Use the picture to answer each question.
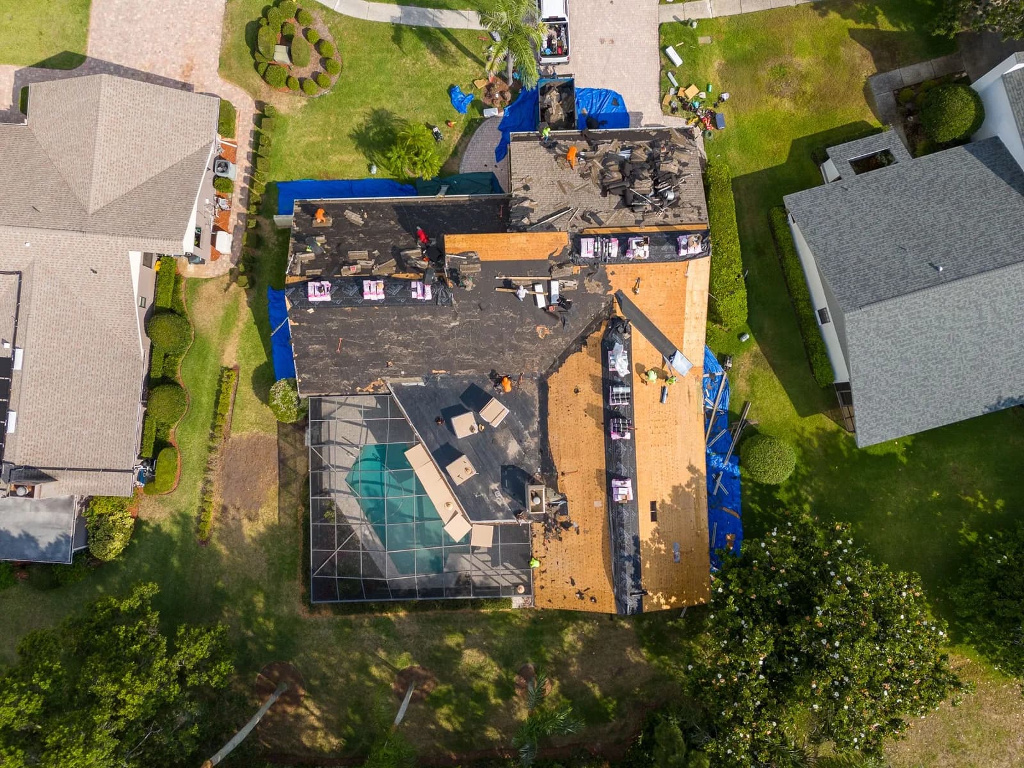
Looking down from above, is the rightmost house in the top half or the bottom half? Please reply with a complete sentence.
You can find the rightmost house in the top half.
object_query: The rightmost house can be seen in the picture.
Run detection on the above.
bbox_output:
[782,50,1024,448]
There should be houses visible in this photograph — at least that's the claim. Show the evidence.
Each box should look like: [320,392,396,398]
[285,127,711,614]
[782,50,1024,448]
[0,74,227,564]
